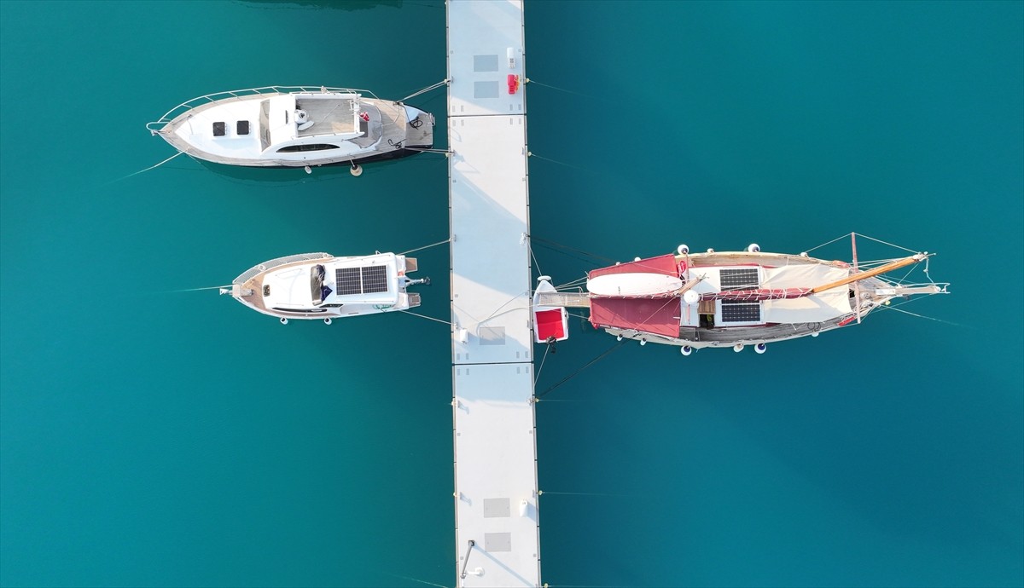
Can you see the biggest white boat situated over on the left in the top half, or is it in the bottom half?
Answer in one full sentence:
The top half of the photo is where the biggest white boat situated over on the left is.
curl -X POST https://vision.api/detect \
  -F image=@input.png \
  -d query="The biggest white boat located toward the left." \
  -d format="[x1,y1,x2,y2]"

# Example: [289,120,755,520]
[146,85,435,174]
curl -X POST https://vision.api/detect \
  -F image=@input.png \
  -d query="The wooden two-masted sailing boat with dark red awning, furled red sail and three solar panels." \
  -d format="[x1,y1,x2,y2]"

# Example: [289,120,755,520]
[585,233,950,348]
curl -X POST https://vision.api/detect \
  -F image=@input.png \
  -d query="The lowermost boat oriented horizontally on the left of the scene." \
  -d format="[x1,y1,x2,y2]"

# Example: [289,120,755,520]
[220,251,430,322]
